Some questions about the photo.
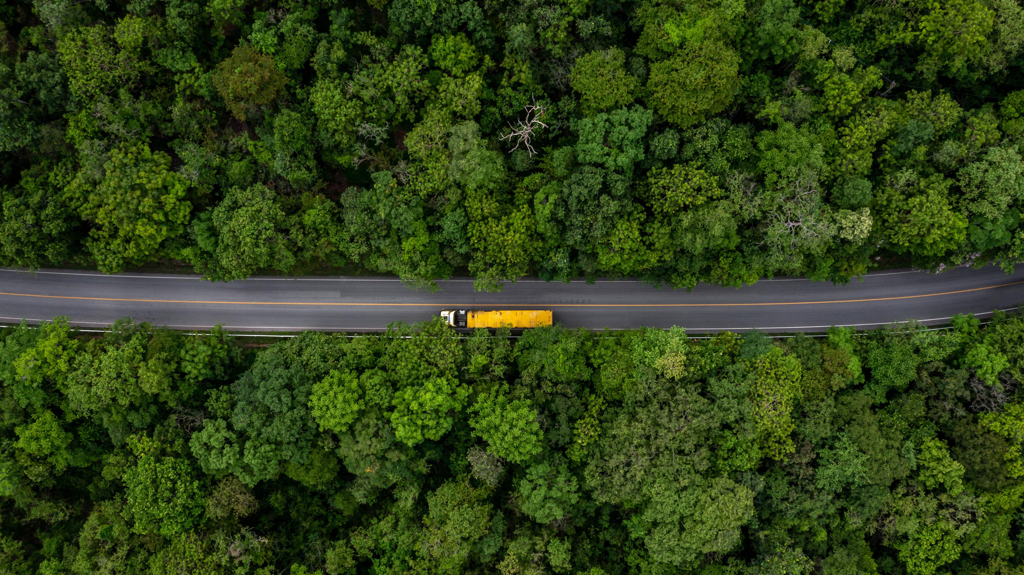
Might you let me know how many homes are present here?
0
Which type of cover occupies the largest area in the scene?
trees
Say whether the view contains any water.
No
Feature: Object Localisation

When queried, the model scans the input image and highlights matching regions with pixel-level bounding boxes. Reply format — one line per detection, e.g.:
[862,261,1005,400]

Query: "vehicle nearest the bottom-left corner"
[440,307,472,329]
